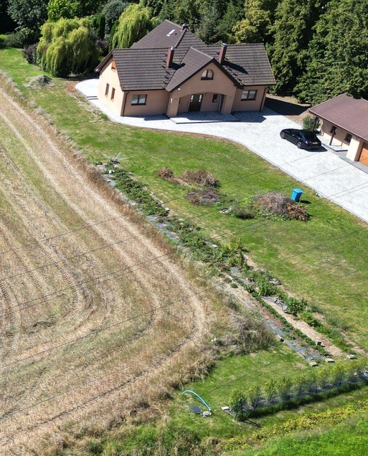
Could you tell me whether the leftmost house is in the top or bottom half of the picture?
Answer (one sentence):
You can find the leftmost house in the top half.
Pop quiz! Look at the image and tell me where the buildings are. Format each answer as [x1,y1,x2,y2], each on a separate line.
[85,16,275,120]
[309,92,368,166]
